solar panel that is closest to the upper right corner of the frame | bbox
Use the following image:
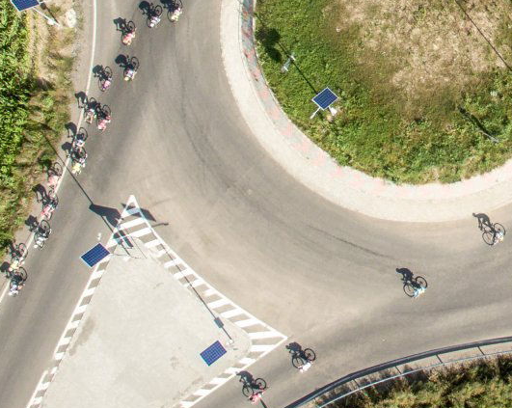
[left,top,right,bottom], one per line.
[313,86,342,110]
